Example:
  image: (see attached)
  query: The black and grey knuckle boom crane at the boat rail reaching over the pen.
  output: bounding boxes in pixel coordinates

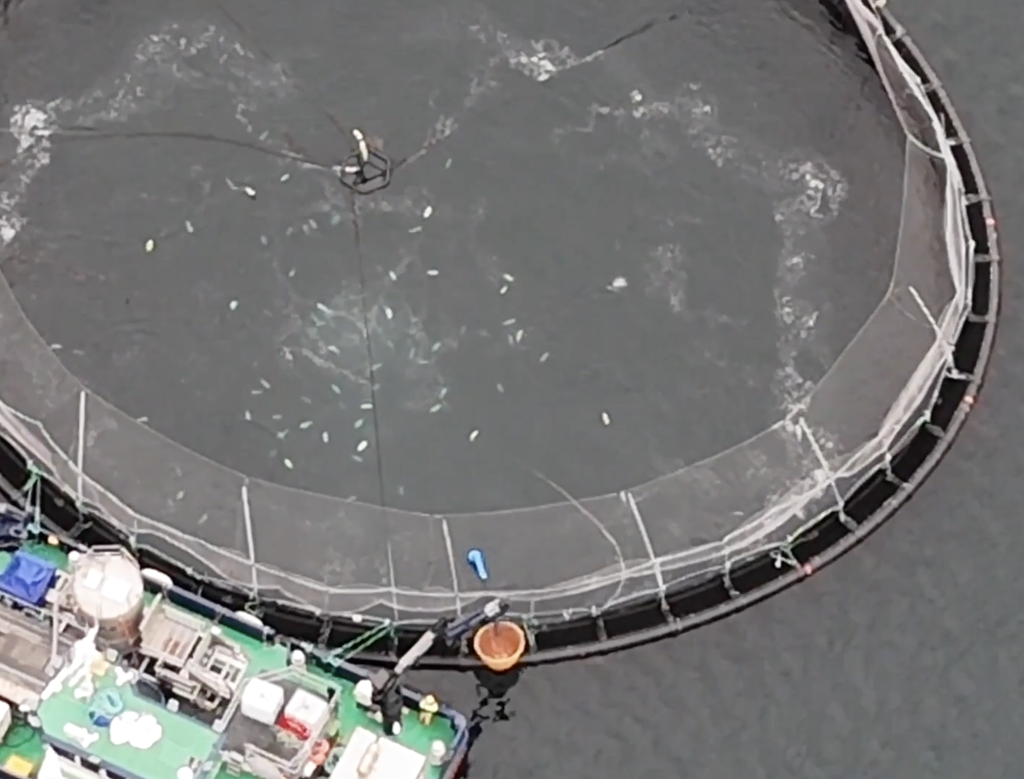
[355,595,511,739]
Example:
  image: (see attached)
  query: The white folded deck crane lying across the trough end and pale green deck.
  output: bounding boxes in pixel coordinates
[42,622,105,699]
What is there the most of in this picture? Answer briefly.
water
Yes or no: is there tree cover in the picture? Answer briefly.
No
